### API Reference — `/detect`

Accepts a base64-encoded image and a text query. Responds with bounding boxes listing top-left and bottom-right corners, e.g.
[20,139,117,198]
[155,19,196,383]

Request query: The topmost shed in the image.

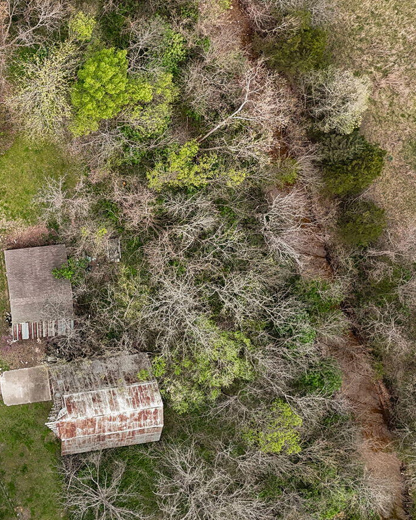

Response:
[4,244,74,342]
